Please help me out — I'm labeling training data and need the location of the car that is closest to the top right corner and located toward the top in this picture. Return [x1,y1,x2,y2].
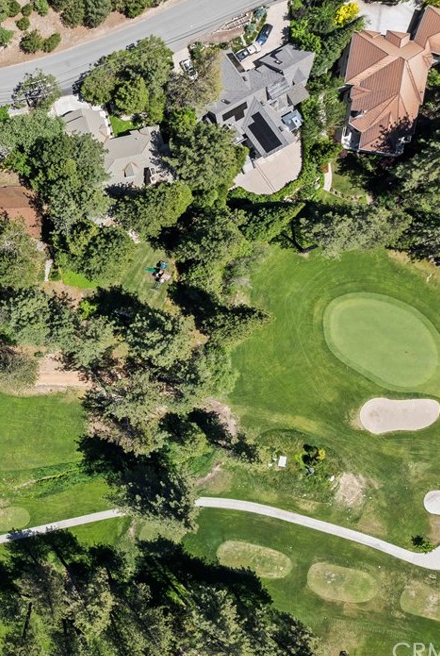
[257,19,275,44]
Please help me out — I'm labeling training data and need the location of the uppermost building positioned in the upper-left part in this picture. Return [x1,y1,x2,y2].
[60,109,171,188]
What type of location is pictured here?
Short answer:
golf course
